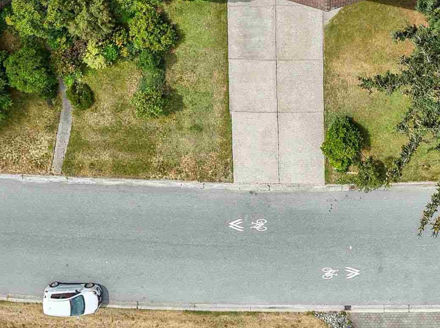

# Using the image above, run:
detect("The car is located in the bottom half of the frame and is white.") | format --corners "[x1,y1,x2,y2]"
[39,282,101,316]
